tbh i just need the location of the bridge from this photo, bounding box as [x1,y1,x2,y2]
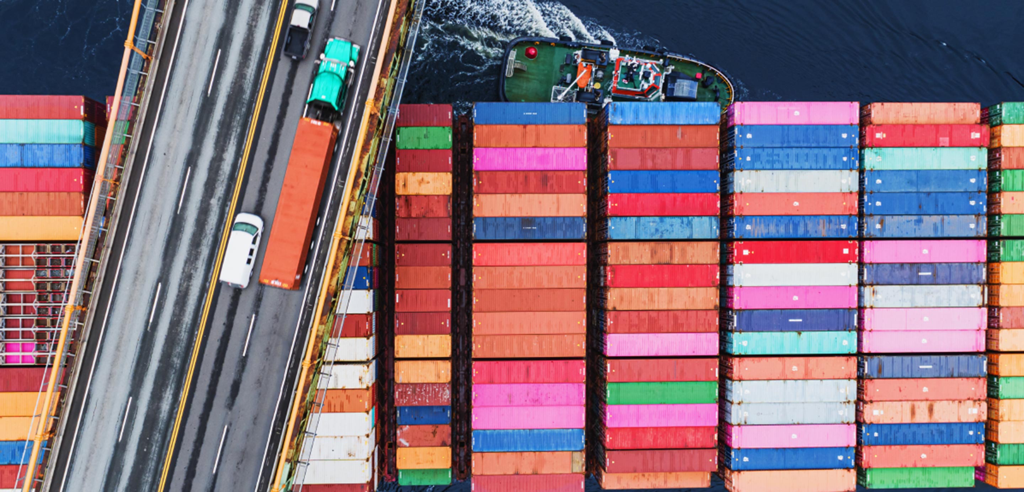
[8,0,424,492]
